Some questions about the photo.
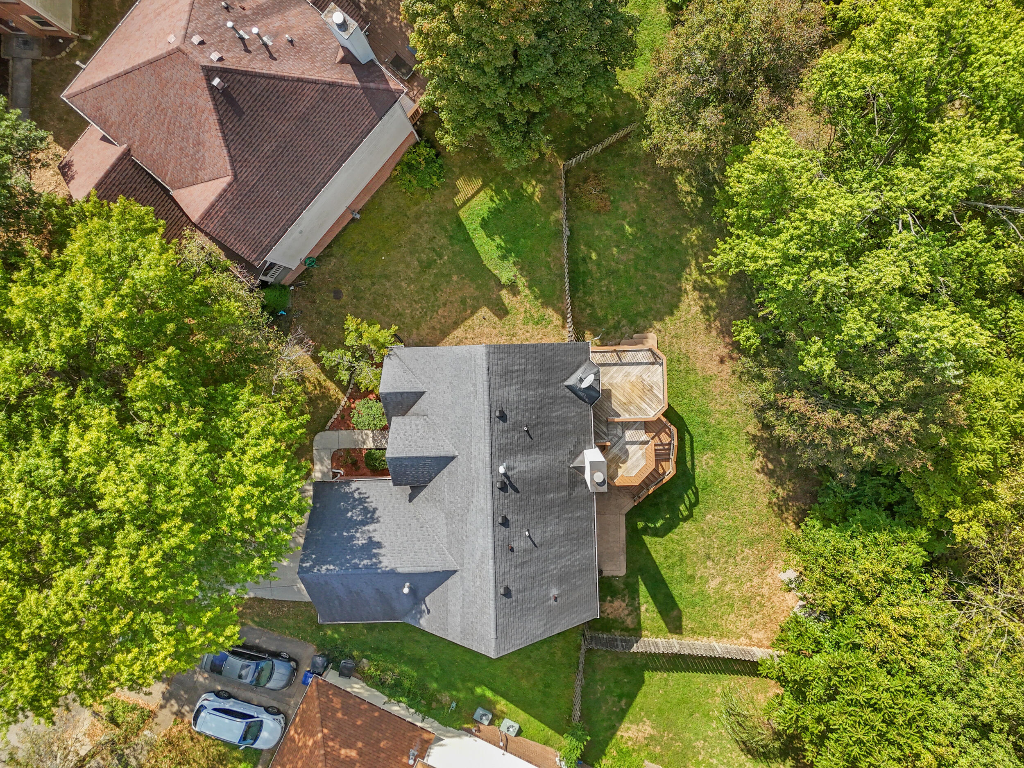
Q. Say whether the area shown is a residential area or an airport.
residential area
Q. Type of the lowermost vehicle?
car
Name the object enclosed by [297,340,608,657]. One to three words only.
house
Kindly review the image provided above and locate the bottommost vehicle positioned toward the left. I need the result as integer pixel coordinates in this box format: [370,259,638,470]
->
[192,689,287,749]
